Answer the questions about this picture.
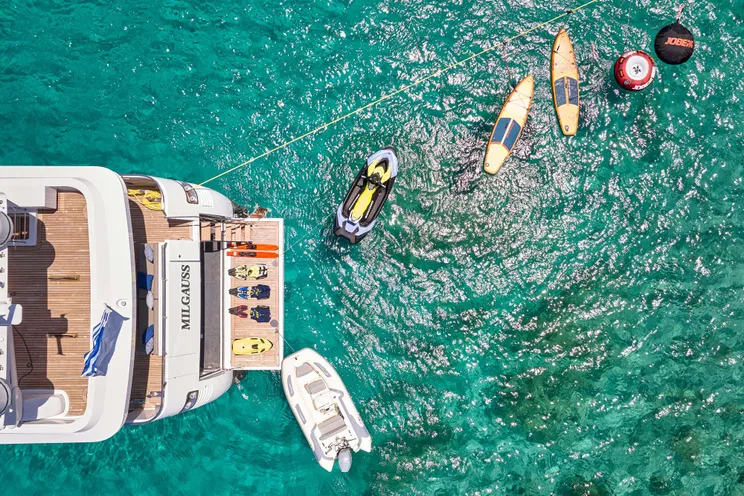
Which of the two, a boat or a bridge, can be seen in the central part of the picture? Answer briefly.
boat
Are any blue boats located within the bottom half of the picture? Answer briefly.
No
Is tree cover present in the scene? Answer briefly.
No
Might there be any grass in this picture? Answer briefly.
No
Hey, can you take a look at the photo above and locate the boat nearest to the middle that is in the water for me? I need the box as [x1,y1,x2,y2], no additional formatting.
[333,149,397,244]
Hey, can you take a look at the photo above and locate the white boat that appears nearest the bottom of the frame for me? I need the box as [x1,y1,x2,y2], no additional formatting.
[279,351,373,474]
